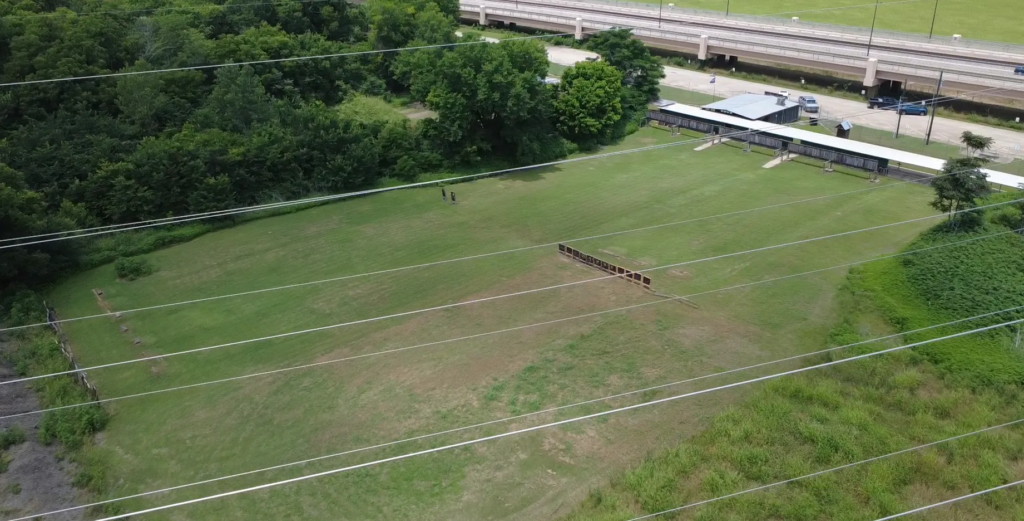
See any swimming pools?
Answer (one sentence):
No, I can see no swimming pool in this picture.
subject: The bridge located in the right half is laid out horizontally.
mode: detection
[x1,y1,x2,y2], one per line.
[406,0,1024,102]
